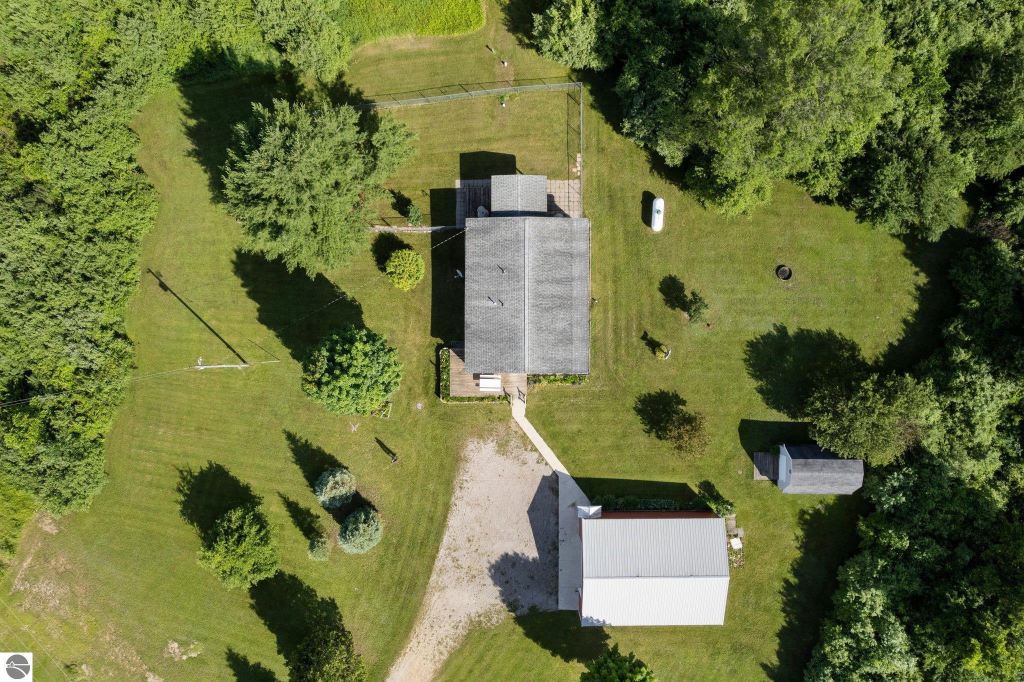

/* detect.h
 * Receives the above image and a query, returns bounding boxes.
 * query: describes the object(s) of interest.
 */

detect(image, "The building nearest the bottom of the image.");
[578,506,730,626]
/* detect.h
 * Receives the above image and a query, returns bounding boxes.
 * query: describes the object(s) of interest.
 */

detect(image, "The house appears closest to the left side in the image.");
[465,175,591,374]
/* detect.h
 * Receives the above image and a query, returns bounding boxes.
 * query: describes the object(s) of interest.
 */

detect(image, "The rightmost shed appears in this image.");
[777,442,864,494]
